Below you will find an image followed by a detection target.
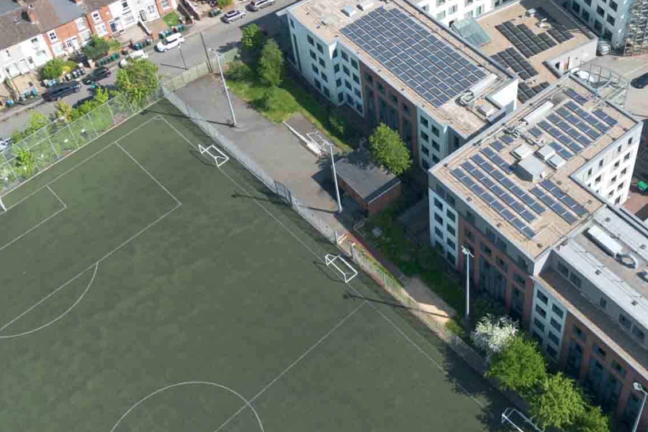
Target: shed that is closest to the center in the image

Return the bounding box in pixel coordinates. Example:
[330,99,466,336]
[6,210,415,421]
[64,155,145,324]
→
[330,151,401,219]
